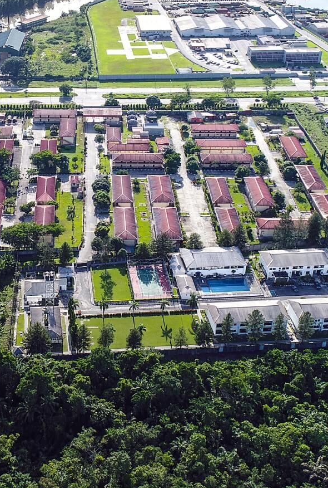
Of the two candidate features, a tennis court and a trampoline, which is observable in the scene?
tennis court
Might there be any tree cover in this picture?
Yes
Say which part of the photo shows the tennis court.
center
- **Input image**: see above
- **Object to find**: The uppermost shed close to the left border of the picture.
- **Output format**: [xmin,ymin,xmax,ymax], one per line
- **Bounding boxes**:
[0,27,23,64]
